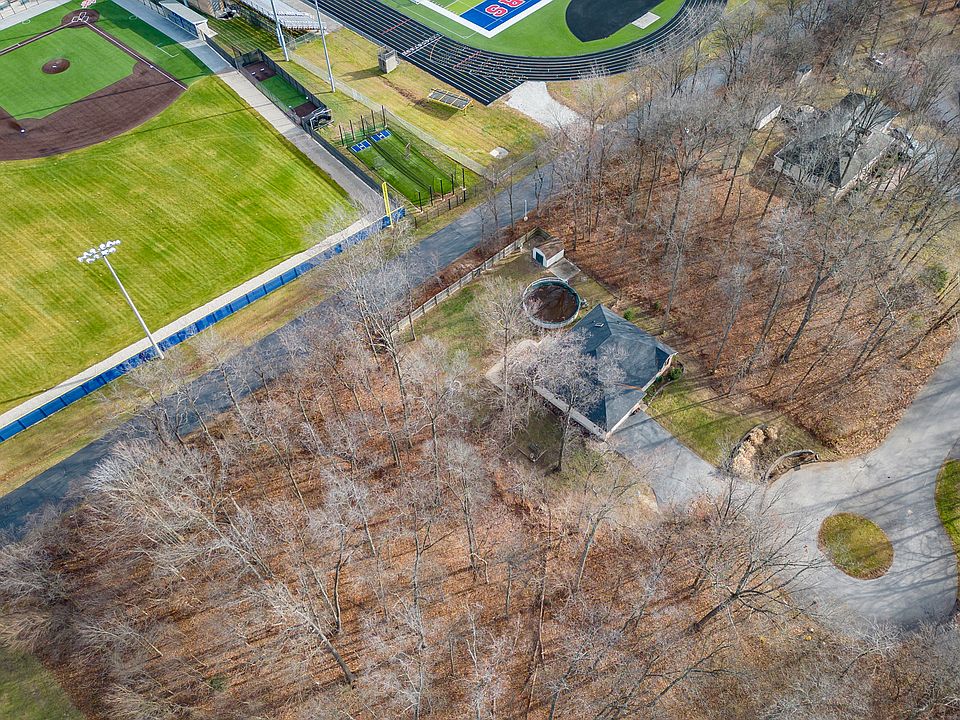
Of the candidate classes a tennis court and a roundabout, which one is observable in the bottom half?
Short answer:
roundabout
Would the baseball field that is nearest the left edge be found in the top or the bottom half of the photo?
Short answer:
top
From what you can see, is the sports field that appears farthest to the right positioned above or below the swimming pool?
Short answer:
above it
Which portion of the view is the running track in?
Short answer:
top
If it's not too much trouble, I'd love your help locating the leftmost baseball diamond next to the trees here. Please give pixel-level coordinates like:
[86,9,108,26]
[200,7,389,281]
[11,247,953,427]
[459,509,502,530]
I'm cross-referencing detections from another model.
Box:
[0,0,403,441]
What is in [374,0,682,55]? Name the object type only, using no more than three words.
sports field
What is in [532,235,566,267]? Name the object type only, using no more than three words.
shed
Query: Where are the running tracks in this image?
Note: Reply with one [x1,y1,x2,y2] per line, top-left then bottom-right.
[296,0,730,101]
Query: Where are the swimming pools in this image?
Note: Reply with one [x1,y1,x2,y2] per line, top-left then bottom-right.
[522,281,580,330]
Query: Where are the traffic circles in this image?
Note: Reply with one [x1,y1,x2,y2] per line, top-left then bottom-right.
[820,515,892,578]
